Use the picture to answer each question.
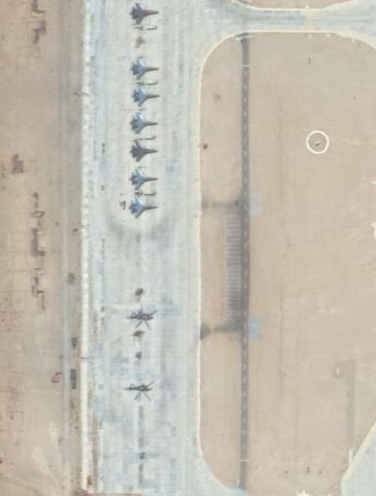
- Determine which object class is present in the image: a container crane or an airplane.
airplane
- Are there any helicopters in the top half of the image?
No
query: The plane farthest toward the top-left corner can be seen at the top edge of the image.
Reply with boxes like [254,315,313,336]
[131,4,159,22]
